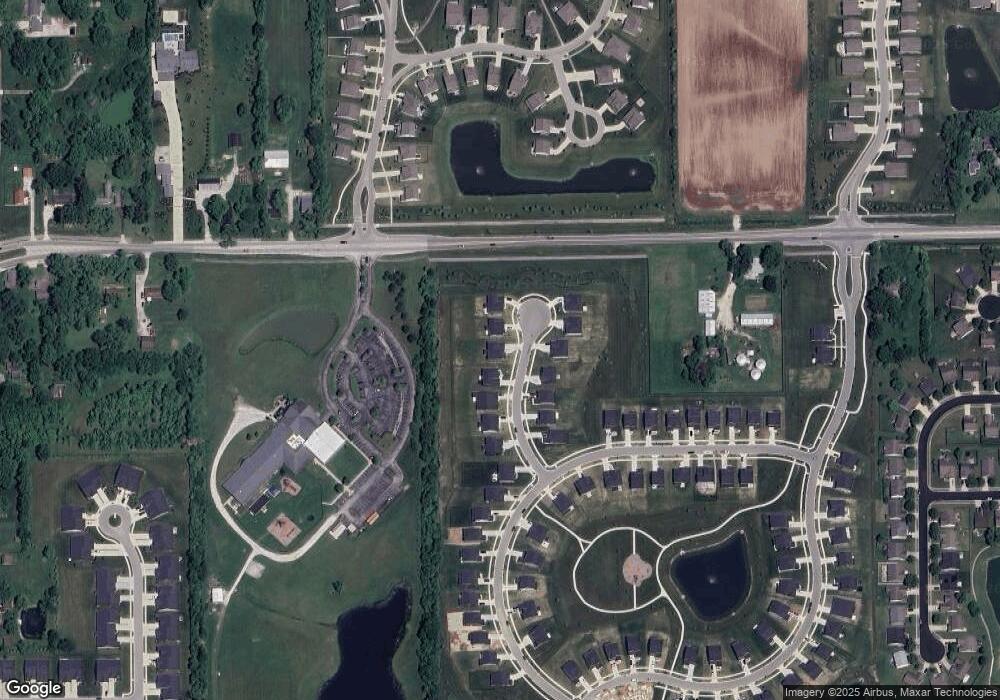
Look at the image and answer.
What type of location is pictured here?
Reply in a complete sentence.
It's a residential area.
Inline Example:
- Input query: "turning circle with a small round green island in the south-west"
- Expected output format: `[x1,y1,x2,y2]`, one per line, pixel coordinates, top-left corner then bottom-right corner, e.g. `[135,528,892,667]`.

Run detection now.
[99,503,132,536]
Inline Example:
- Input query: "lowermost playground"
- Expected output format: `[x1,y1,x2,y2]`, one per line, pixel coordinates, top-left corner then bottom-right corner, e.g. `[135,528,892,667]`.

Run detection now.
[268,514,302,546]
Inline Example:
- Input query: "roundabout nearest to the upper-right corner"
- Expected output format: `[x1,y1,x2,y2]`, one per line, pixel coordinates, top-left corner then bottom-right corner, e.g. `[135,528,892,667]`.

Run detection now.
[565,105,604,147]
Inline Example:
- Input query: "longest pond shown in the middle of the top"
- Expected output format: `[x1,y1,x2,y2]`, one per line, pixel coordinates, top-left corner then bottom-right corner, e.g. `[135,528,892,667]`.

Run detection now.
[450,121,655,196]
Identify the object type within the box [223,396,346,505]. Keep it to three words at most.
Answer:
building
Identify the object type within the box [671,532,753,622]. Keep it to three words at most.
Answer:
pond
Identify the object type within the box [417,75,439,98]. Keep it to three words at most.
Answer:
house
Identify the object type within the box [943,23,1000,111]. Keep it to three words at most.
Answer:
pond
